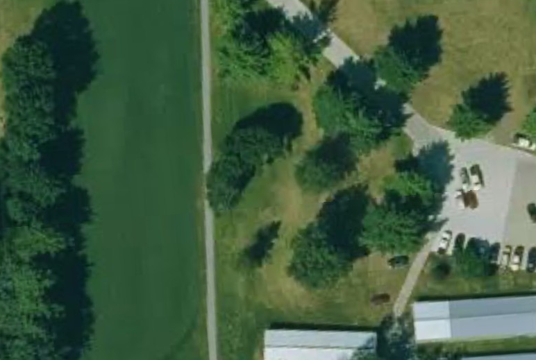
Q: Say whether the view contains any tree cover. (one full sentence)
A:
Yes, the picture does contain tree cover.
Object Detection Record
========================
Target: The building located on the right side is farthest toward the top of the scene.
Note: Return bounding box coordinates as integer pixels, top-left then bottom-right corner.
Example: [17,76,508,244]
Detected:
[412,292,536,342]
